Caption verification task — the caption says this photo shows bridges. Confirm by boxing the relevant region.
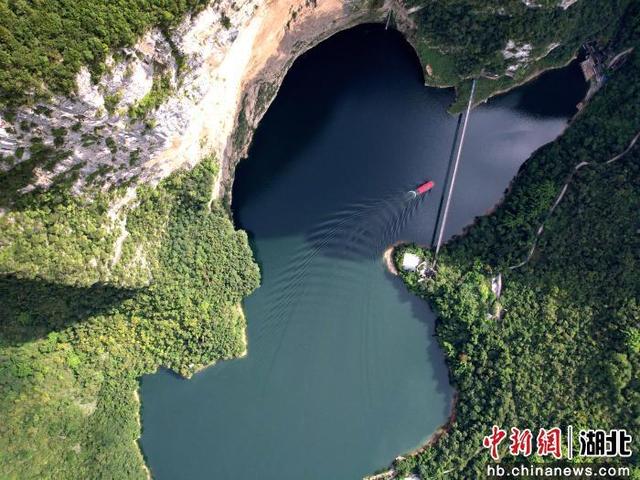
[433,77,478,265]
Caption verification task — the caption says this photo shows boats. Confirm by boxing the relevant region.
[415,181,436,194]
